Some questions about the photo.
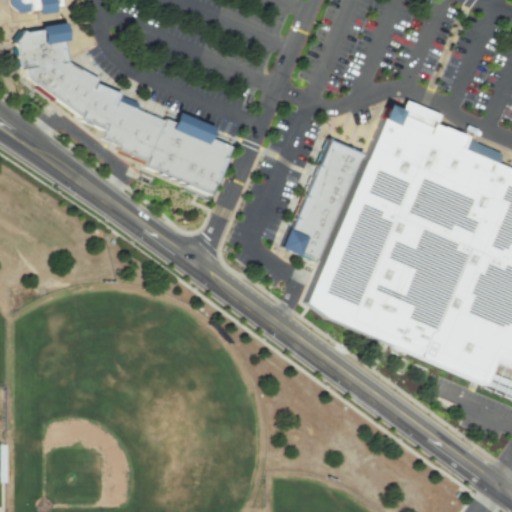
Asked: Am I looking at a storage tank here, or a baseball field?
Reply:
baseball field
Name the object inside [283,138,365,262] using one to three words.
building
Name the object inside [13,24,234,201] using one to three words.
building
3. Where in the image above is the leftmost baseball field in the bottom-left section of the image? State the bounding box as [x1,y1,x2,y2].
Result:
[14,284,266,512]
